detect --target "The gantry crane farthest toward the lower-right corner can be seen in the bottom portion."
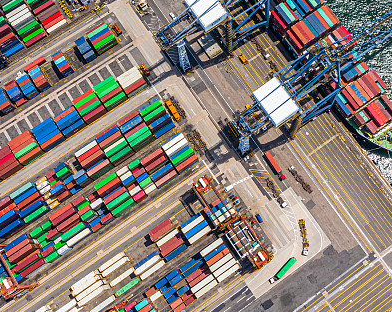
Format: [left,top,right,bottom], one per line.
[224,205,274,271]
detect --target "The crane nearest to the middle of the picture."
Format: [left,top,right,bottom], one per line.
[192,167,240,231]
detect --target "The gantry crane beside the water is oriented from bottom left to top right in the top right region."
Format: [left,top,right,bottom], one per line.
[226,11,392,143]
